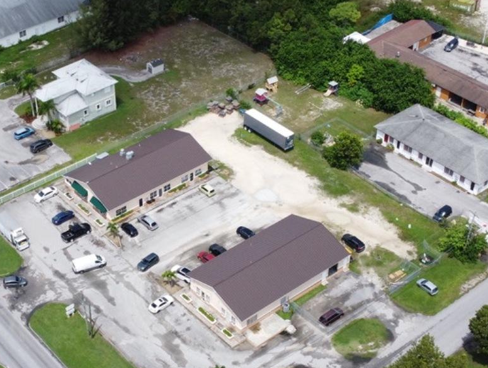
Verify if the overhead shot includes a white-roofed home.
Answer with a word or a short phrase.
Yes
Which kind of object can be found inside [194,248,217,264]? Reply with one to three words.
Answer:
vehicle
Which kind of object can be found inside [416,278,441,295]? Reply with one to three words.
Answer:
car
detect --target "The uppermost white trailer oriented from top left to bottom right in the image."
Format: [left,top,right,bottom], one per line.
[245,109,294,148]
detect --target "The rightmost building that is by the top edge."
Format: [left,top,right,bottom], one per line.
[365,18,488,118]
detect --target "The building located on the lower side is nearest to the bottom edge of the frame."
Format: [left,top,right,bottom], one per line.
[171,215,351,350]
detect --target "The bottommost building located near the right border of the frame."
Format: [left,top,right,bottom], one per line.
[376,103,488,191]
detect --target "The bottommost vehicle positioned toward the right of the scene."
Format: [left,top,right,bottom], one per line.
[318,308,345,325]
